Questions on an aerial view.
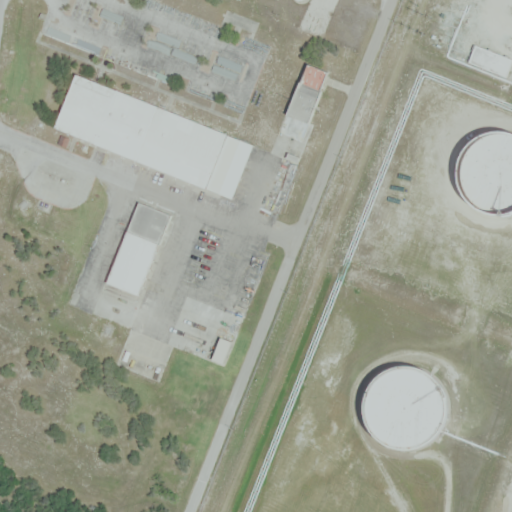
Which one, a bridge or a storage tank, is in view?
storage tank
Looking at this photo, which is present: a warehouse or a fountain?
warehouse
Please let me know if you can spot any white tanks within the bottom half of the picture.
Yes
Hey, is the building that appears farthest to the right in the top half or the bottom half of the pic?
top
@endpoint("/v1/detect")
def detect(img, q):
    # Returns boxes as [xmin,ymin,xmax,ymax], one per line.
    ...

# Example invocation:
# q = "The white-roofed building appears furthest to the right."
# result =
[469,46,512,78]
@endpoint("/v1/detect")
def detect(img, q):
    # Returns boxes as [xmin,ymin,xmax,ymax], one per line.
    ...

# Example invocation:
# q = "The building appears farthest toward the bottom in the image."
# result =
[212,338,233,366]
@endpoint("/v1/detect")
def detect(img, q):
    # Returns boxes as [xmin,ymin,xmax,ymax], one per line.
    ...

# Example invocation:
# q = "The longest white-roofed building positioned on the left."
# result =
[54,75,254,200]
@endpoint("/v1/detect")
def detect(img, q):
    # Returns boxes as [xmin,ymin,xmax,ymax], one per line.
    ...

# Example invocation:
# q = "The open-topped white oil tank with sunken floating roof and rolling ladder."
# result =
[454,130,512,218]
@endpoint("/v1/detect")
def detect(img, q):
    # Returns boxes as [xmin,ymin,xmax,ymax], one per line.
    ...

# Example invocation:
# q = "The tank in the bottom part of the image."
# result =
[362,366,450,452]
